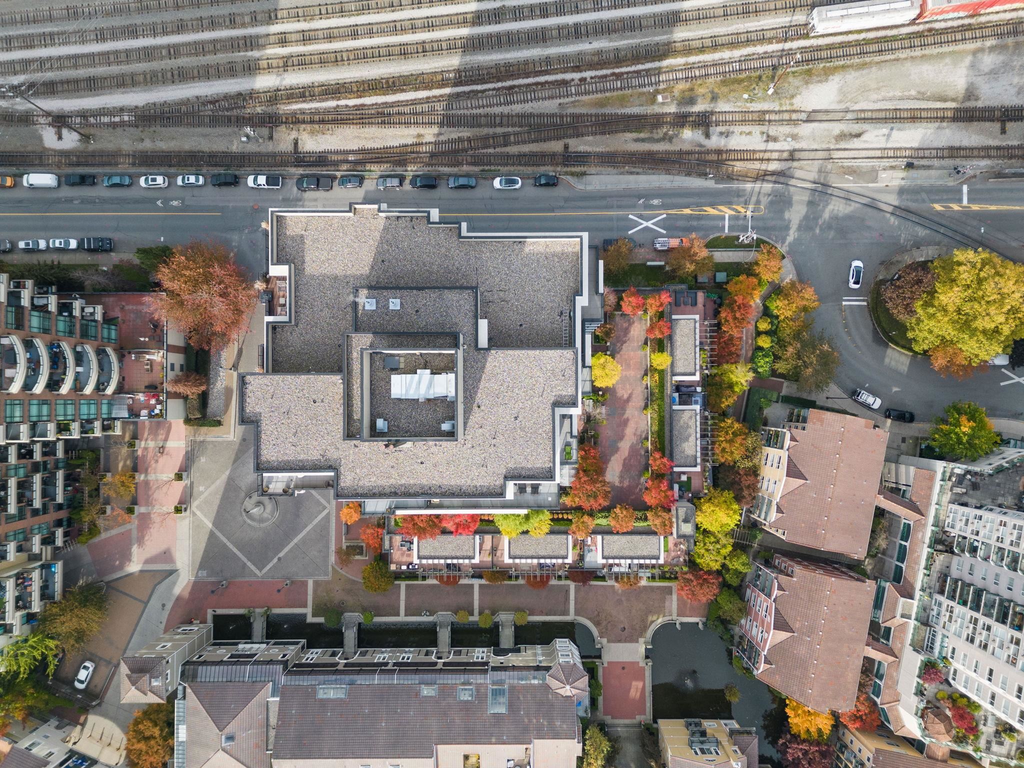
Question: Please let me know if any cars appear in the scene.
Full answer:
Yes, you can see a car in this photo.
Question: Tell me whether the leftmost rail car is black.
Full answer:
No, the color of the leftmost rail car is white.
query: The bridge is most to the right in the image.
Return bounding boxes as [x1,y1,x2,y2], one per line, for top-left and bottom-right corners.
[602,643,646,661]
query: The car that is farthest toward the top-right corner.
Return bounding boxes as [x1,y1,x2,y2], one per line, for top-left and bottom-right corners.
[848,260,864,289]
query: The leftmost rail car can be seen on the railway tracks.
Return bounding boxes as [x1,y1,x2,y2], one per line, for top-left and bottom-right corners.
[811,0,925,32]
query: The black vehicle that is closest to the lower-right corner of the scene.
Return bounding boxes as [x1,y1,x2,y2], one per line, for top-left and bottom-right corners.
[885,409,915,423]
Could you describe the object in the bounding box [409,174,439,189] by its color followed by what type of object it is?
black car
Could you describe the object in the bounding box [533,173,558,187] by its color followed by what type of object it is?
black car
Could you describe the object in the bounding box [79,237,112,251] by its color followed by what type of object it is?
black vehicle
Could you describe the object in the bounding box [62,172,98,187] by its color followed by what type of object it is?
black vehicle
